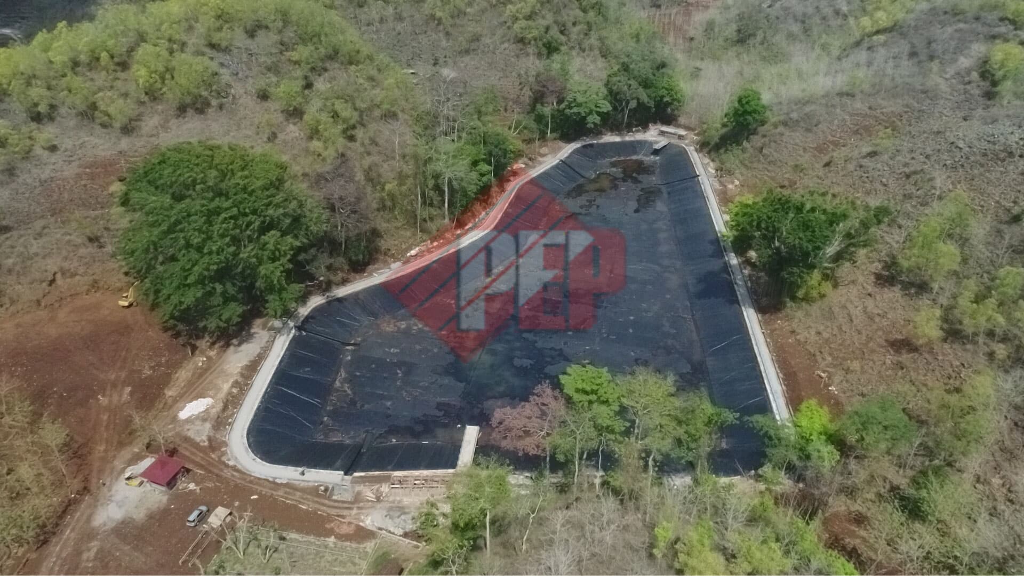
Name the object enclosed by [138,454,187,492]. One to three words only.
shed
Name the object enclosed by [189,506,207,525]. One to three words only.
car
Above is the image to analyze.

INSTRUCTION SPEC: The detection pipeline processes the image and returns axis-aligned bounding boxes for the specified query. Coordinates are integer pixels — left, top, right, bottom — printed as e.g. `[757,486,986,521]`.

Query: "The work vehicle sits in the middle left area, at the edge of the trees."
[119,279,137,309]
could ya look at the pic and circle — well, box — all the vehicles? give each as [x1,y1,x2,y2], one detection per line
[189,506,207,525]
[119,279,137,309]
